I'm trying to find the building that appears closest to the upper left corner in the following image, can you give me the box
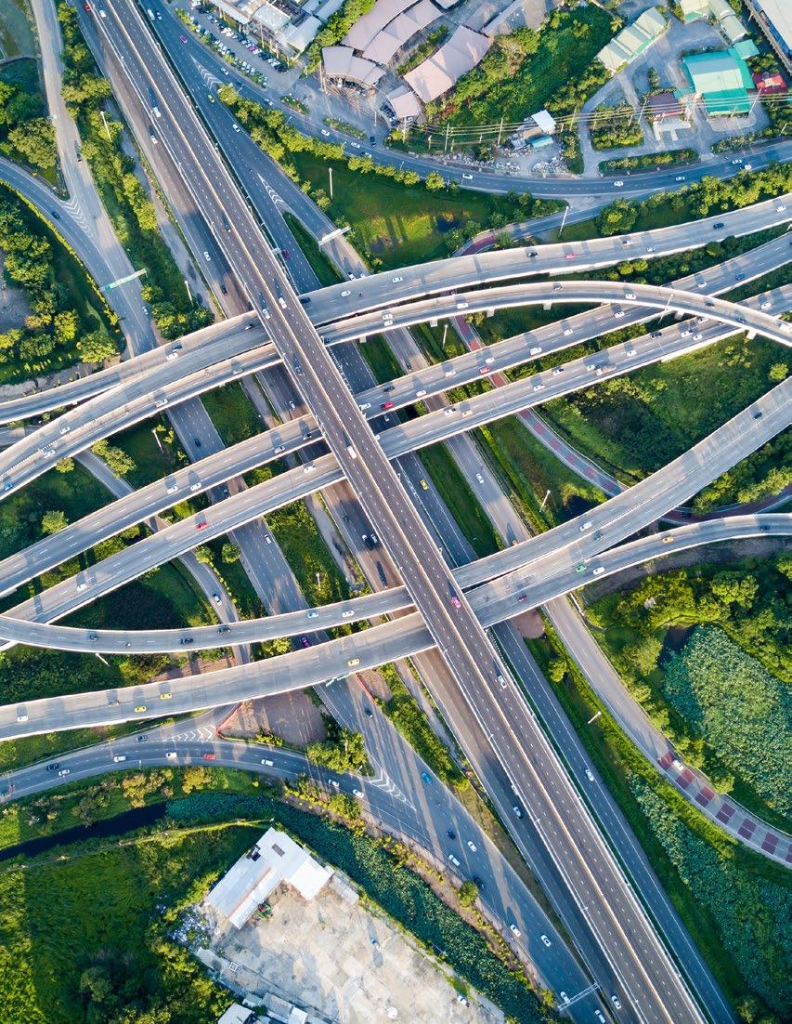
[212,0,267,29]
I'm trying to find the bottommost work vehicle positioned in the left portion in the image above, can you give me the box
[256,903,270,918]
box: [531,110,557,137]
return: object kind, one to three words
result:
shed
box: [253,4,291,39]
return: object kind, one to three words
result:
building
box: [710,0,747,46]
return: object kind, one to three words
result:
building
